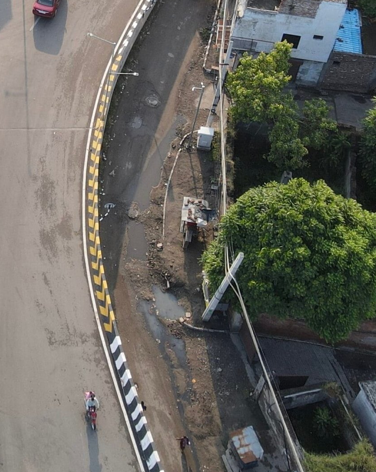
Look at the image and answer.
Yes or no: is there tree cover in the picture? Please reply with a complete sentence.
Yes, tree cover shows up in the scene.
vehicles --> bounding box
[87,399,104,430]
[30,0,59,20]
